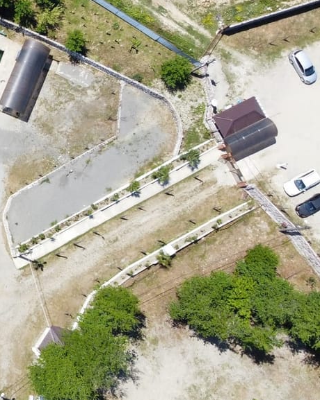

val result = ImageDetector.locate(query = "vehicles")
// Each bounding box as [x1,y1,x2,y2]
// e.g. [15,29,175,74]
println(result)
[289,51,315,83]
[293,194,320,218]
[282,171,320,196]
